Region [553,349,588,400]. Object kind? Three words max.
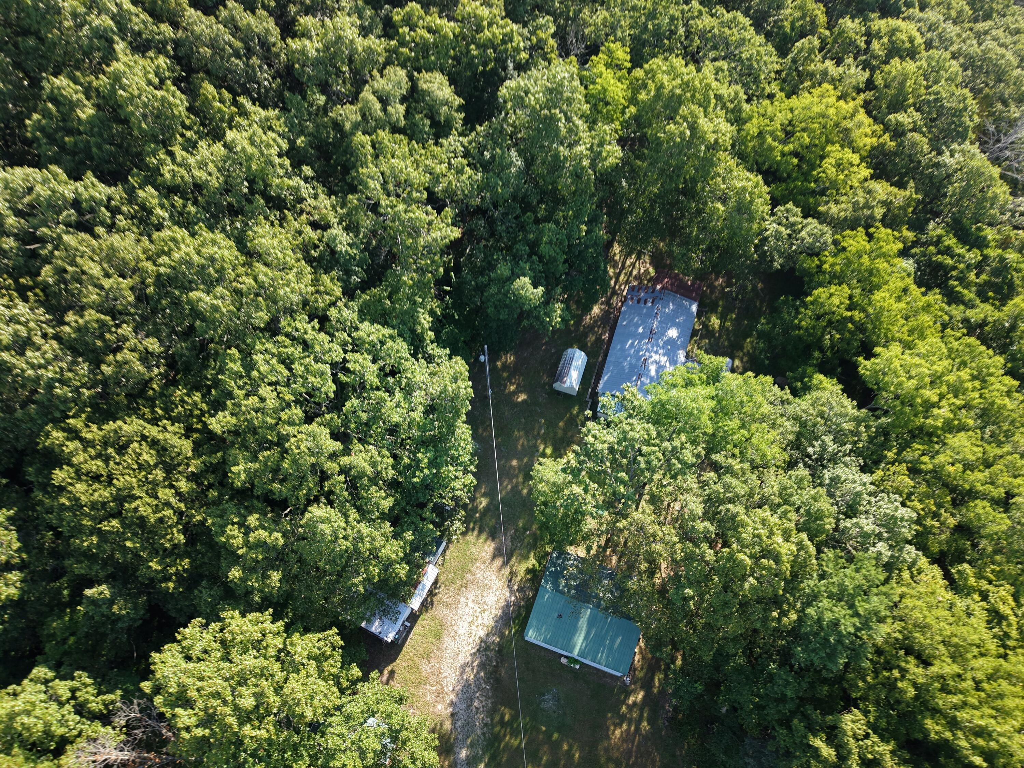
shed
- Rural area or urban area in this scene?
rural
